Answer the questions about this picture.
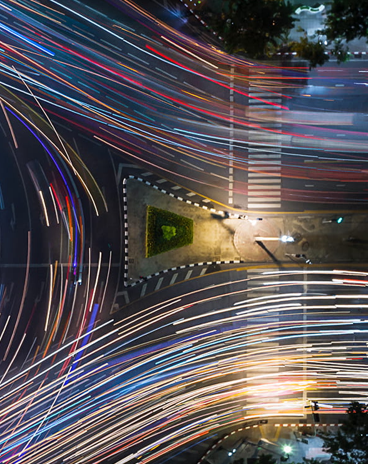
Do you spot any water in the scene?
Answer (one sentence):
No, water can't be seen anywhere here.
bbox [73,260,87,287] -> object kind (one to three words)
car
